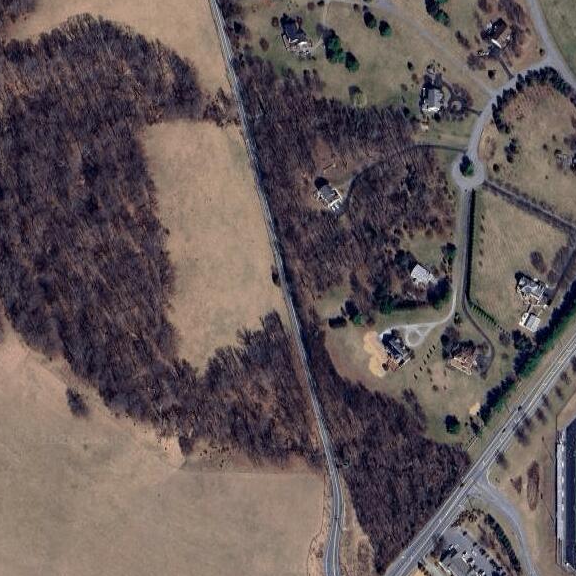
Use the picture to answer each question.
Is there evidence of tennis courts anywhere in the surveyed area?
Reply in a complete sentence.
No, this view has no tennis court in it.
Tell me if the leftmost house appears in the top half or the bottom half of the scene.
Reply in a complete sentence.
The leftmost house sits in the top half of the picture.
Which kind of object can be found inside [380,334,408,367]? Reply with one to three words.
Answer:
house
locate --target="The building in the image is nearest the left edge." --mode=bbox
[281,21,308,51]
